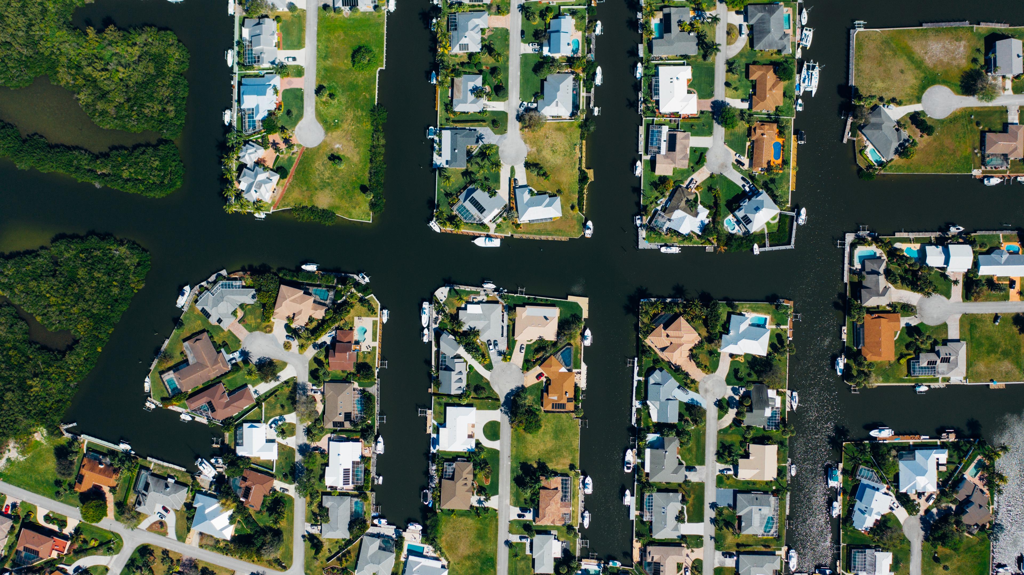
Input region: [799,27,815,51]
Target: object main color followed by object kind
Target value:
white boat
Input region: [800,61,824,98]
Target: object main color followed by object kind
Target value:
white boat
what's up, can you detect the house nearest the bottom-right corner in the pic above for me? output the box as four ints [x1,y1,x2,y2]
[949,478,994,528]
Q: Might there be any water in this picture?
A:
Yes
